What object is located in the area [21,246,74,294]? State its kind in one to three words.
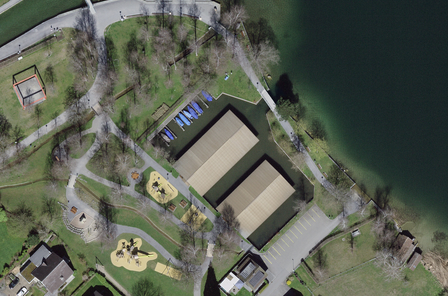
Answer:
house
